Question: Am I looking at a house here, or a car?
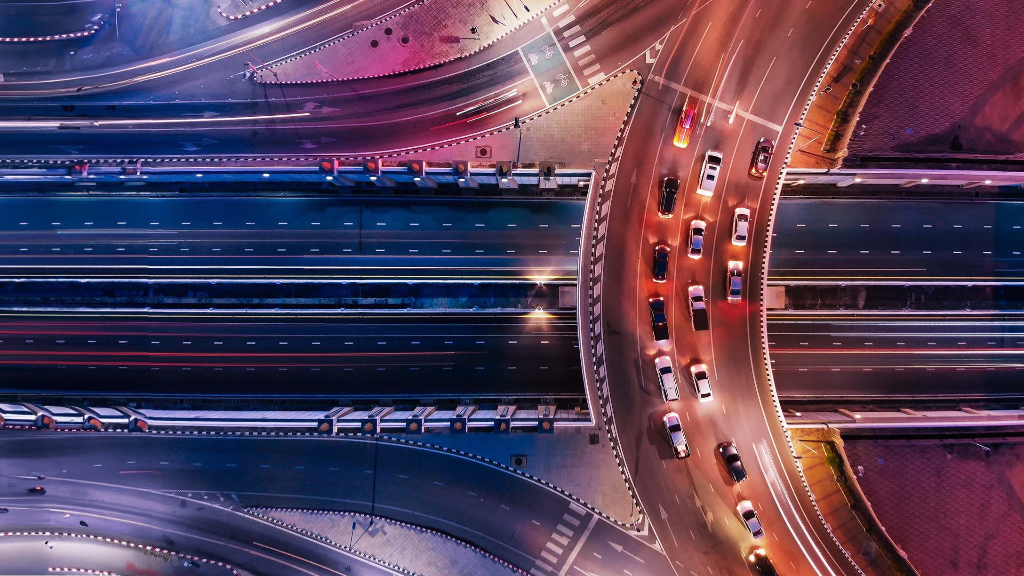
car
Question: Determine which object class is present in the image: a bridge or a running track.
bridge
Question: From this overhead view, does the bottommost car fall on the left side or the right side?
right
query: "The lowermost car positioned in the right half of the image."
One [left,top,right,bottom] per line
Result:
[747,545,774,576]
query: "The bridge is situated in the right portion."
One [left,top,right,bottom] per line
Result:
[576,169,791,426]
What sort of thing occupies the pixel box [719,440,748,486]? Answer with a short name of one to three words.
car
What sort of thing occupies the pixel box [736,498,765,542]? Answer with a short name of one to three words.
car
